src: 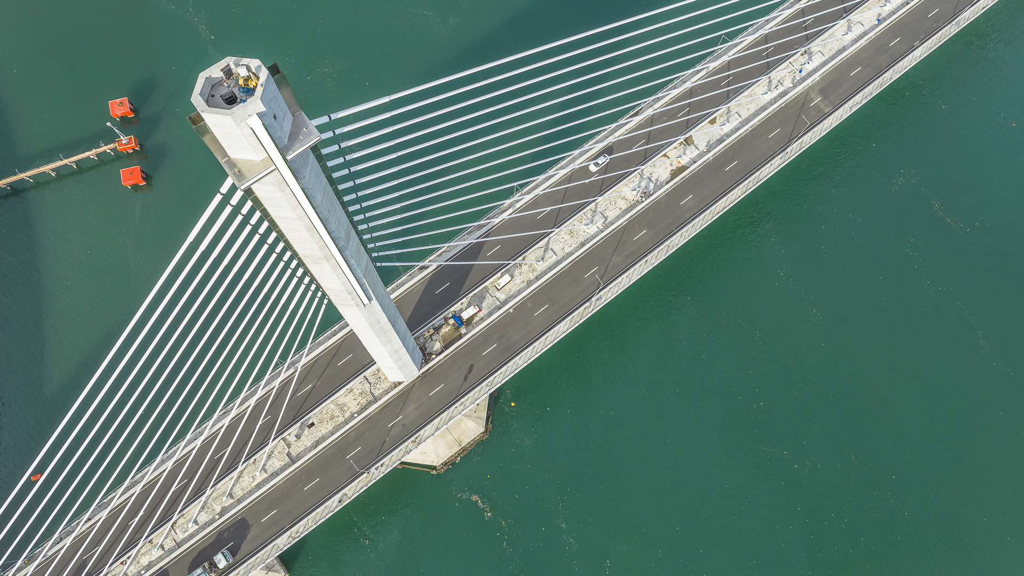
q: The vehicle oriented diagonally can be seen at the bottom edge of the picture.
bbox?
[192,549,239,576]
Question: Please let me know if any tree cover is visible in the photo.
No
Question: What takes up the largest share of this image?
water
